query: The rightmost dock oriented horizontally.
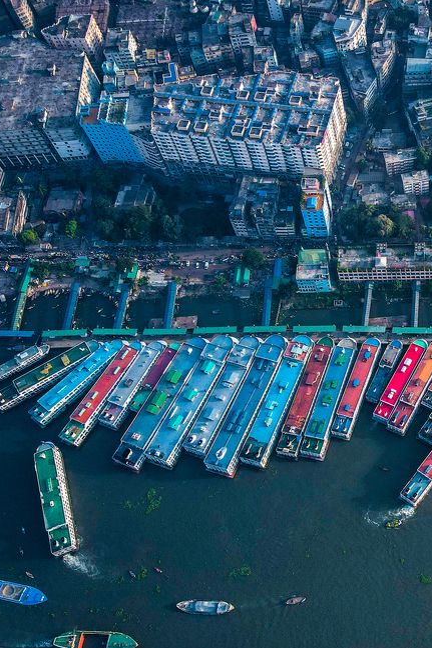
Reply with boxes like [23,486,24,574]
[388,326,432,347]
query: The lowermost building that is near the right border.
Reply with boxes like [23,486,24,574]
[337,245,432,281]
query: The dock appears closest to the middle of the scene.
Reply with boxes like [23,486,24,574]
[192,326,241,347]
